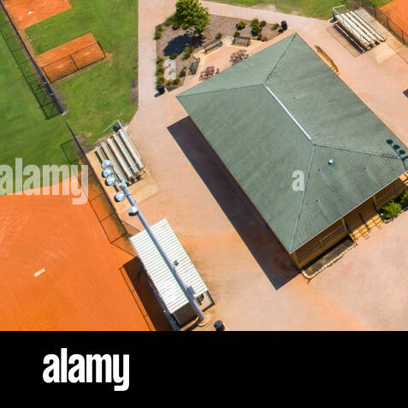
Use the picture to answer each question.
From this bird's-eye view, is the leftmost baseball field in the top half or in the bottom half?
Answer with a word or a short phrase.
bottom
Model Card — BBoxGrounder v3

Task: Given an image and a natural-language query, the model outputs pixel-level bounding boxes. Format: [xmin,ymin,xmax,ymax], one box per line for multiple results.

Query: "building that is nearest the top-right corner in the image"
[175,30,408,265]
